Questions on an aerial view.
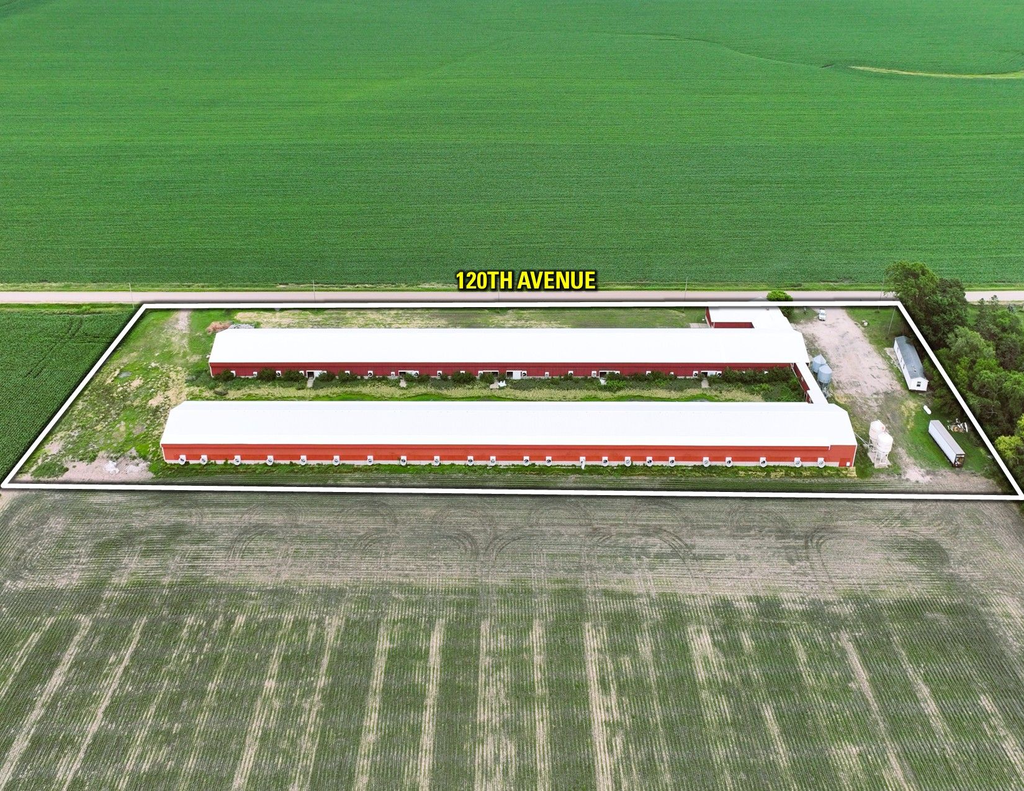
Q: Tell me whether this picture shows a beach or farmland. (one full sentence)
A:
The area seen from above is farmland.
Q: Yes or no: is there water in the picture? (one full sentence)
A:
No, there's no water in this view.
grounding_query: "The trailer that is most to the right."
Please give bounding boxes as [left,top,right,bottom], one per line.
[928,420,965,465]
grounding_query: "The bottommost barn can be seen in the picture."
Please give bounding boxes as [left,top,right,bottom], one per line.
[160,401,858,468]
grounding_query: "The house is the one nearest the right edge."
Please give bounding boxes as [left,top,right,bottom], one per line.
[896,340,930,390]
